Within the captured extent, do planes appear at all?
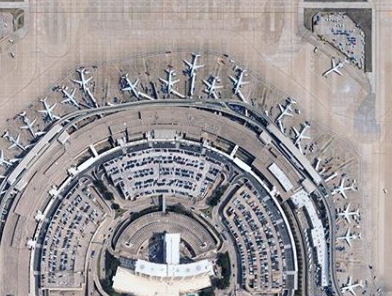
Yes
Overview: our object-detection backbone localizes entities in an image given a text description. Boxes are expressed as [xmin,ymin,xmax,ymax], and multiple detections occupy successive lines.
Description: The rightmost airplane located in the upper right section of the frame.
[325,57,346,75]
